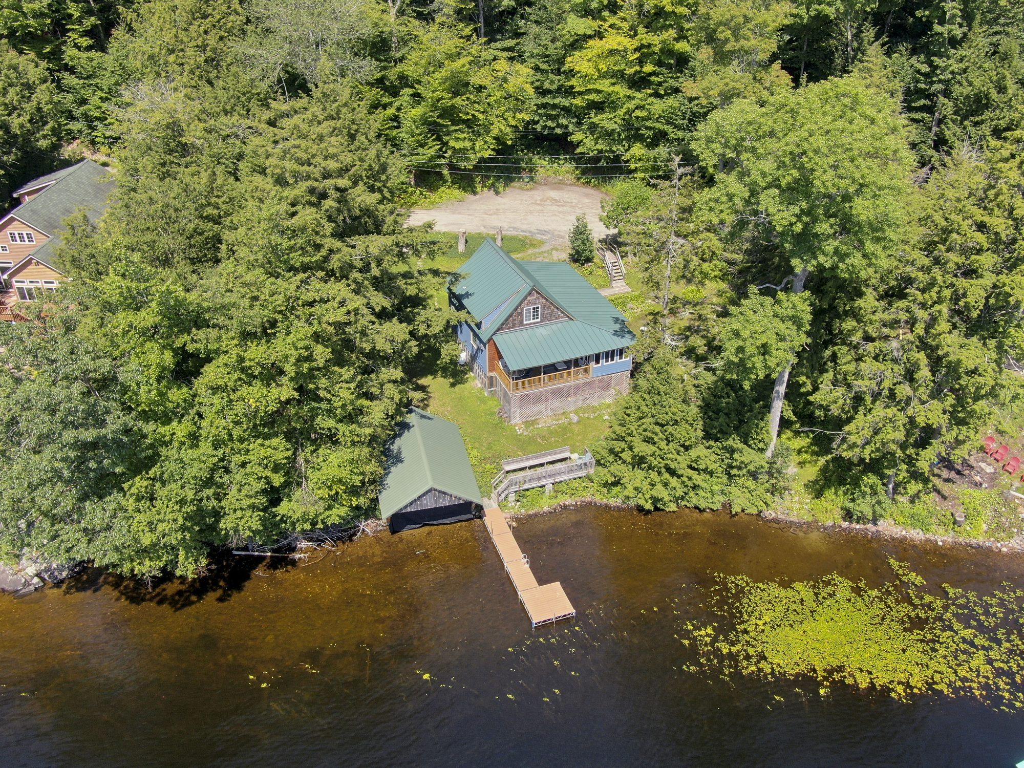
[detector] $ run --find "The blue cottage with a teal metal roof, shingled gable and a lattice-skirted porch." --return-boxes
[444,238,636,425]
